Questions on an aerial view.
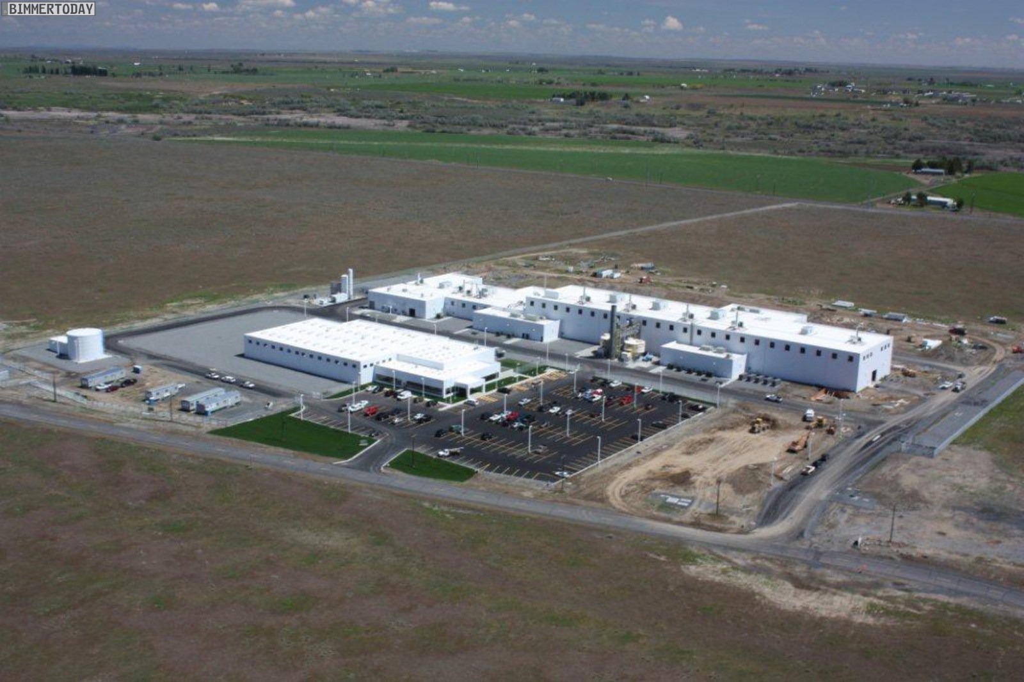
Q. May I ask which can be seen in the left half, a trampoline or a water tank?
water tank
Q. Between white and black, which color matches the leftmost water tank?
white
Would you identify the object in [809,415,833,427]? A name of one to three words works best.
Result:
vehicle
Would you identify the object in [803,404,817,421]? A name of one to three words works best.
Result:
vehicle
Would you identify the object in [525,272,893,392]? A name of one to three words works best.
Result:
building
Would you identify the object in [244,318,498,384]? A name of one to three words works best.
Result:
building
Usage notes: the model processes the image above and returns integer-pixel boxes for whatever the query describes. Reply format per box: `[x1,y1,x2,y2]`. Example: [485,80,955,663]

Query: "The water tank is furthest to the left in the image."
[64,327,108,361]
